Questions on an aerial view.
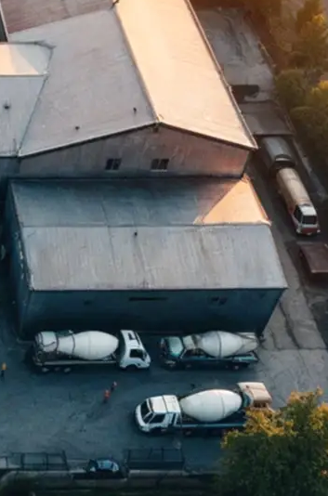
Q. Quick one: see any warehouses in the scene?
Yes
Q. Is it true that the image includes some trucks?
Yes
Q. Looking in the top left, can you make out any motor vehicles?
No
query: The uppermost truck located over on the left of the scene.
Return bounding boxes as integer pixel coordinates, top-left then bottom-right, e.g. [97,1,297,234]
[32,323,154,375]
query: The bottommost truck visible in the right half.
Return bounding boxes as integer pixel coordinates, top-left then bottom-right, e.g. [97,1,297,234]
[136,373,286,440]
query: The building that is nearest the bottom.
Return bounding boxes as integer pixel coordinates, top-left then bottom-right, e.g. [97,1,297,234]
[2,174,285,333]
